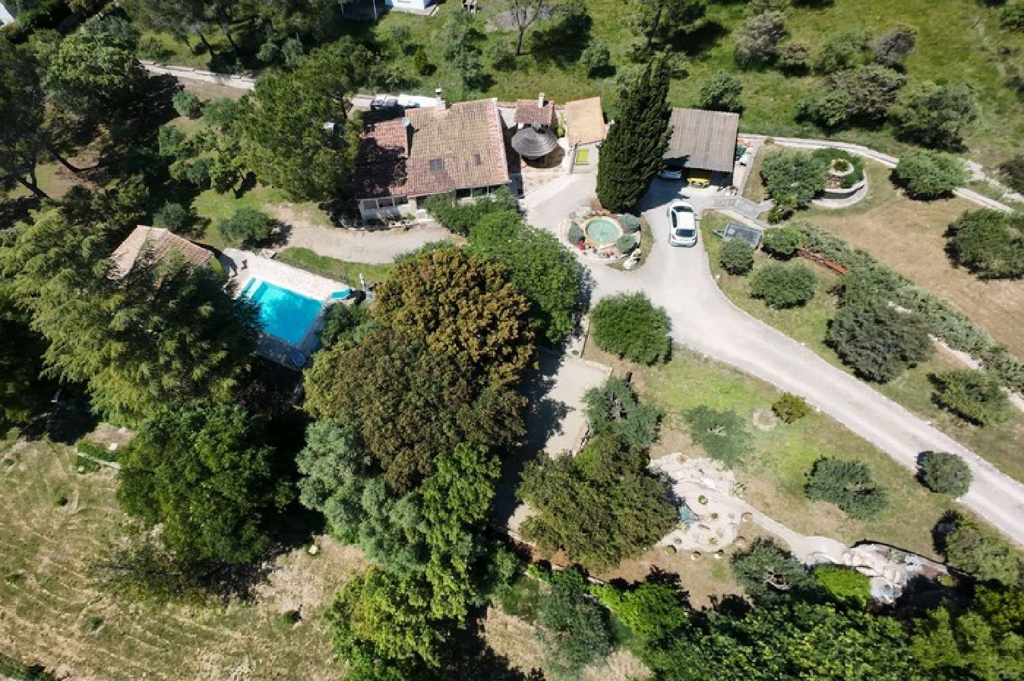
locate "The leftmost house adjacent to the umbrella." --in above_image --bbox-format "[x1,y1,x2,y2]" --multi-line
[407,87,515,239]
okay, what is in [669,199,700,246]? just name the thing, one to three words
car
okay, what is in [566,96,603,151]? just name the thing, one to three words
shed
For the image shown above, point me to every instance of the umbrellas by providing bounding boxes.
[511,129,558,171]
